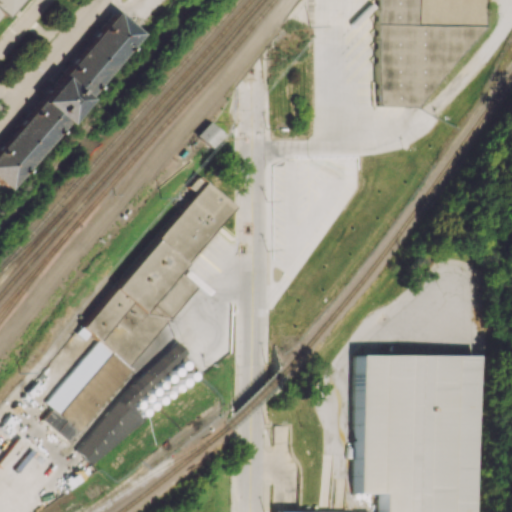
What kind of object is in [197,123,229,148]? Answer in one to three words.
shed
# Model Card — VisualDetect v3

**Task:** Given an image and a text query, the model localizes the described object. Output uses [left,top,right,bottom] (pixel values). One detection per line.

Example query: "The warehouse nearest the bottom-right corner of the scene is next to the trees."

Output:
[352,354,485,512]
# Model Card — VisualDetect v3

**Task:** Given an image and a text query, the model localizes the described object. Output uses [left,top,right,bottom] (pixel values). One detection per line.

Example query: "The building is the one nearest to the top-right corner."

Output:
[370,0,488,108]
